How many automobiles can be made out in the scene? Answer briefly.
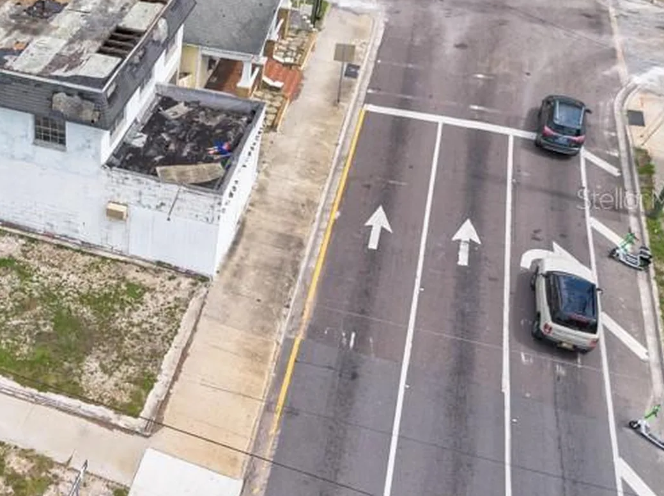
2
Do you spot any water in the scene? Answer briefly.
No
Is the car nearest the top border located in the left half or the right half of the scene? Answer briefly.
right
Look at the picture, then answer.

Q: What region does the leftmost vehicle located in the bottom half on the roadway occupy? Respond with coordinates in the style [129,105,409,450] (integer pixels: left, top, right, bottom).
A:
[535,255,611,355]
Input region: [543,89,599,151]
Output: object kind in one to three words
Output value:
car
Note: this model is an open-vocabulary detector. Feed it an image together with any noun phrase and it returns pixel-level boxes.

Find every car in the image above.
[543,89,599,151]
[535,255,611,355]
